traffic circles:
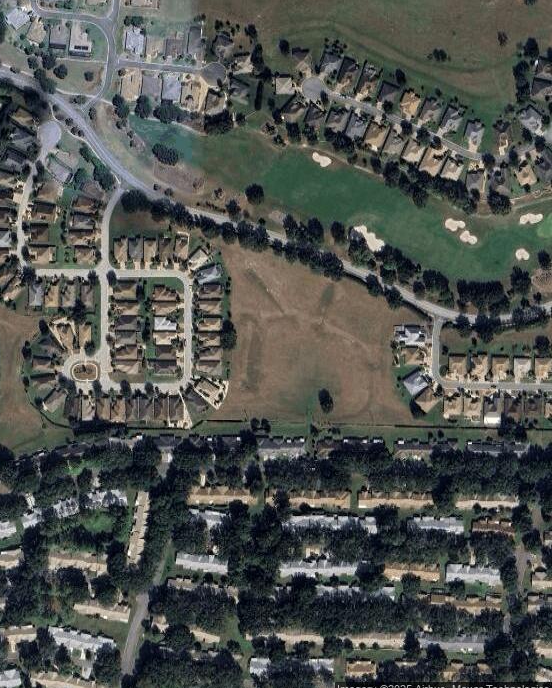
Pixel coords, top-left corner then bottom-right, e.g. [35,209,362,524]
[63,354,108,389]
